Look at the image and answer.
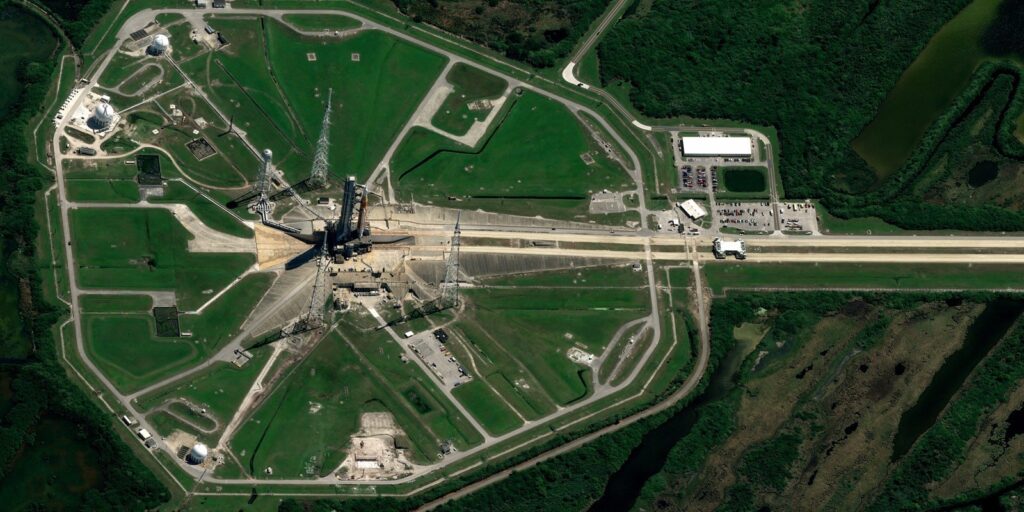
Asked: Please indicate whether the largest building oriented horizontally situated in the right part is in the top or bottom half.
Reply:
top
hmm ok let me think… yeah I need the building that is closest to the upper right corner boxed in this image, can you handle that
[682,137,752,158]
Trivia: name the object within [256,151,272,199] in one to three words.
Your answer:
water tower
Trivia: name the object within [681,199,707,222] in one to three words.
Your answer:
building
